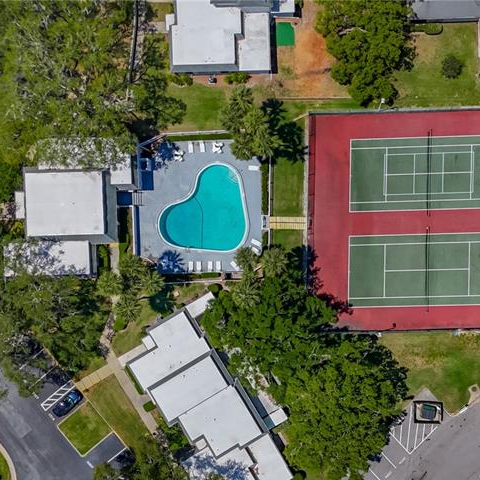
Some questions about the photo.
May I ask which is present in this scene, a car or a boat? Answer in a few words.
car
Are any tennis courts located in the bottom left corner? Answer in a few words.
No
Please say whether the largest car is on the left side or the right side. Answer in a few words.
left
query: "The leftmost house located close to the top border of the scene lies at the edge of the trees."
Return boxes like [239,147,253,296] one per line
[165,0,295,77]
